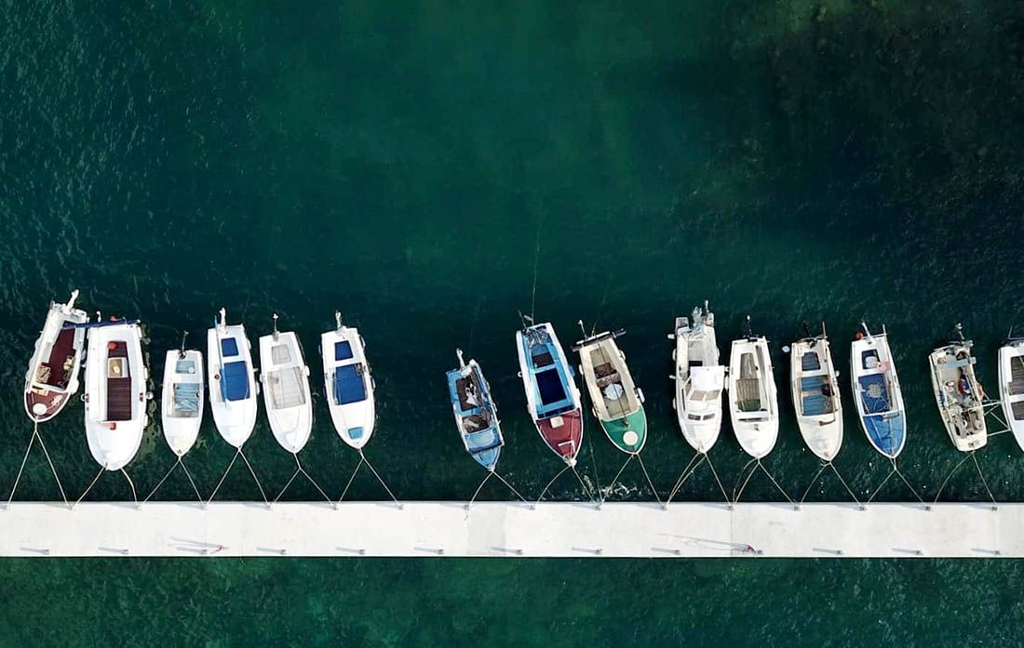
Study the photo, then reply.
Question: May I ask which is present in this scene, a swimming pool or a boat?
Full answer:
There is a boat in the scene.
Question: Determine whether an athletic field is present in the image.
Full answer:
No, there is no athletic field in the image.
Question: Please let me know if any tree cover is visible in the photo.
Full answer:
No, the picture contains no tree cover.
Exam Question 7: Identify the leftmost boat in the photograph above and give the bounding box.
[23,290,87,424]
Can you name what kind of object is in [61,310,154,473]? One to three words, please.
boat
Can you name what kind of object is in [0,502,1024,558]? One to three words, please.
pier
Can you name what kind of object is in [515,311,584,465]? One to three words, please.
boat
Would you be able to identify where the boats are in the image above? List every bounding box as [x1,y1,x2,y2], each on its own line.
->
[997,326,1024,458]
[928,325,988,453]
[446,346,505,472]
[317,309,377,450]
[258,314,313,455]
[790,326,844,463]
[572,319,648,454]
[23,290,87,424]
[515,311,584,465]
[61,310,154,473]
[667,304,727,452]
[850,321,908,461]
[160,330,205,458]
[724,314,780,459]
[206,306,261,449]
